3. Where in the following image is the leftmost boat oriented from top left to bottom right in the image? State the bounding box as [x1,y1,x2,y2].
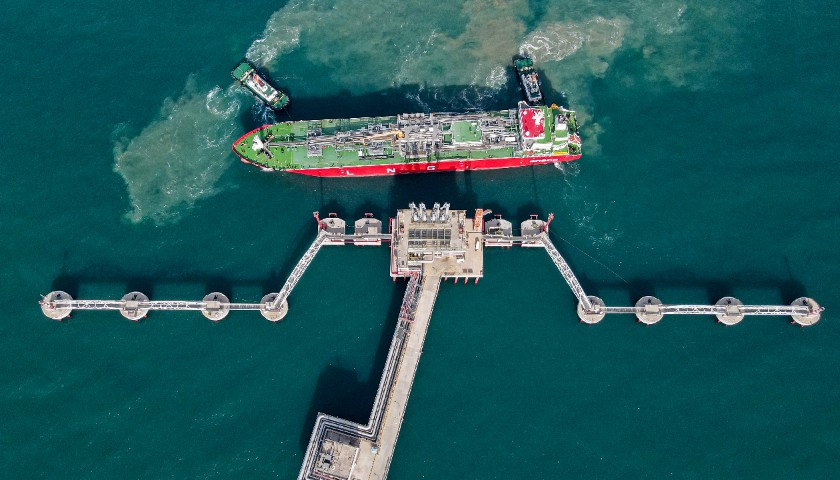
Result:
[233,62,289,109]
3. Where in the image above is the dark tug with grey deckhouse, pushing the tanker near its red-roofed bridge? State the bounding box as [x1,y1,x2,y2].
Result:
[513,57,545,106]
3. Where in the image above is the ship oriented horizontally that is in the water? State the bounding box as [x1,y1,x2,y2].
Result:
[229,101,582,179]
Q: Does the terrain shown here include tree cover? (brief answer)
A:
No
